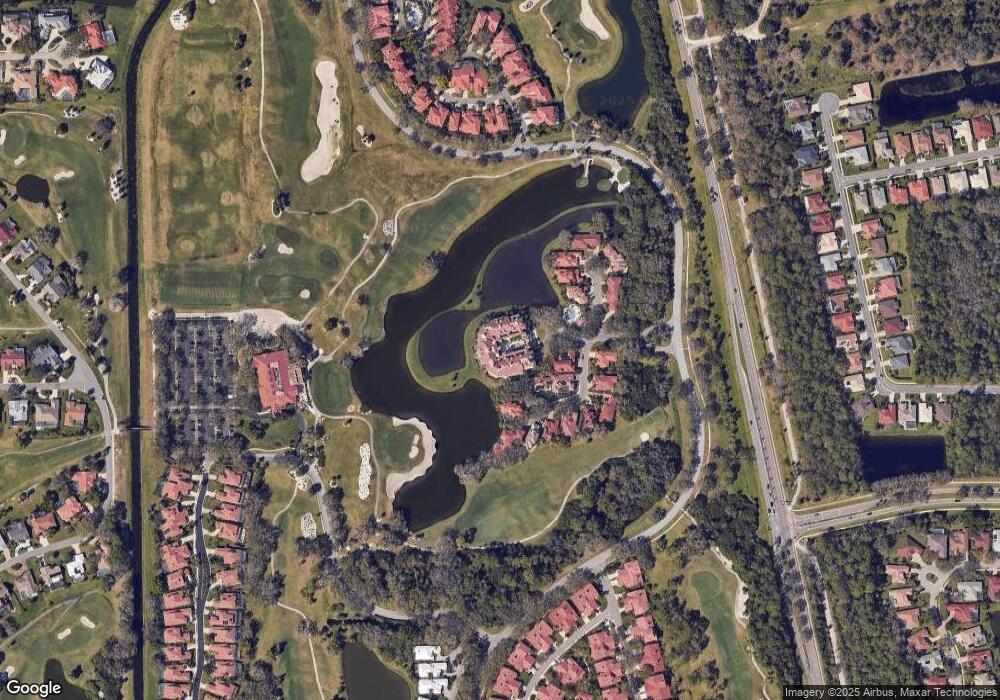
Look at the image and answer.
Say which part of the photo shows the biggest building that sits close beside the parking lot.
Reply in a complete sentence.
Look in the left portion of the view to spot the biggest building that sits close beside the parking lot.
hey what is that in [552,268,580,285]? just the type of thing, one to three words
house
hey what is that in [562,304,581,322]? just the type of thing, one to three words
swimming pool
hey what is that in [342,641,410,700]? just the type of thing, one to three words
pond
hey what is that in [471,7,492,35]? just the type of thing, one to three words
house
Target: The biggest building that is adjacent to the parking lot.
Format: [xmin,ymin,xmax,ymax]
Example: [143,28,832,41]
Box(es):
[250,350,296,412]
